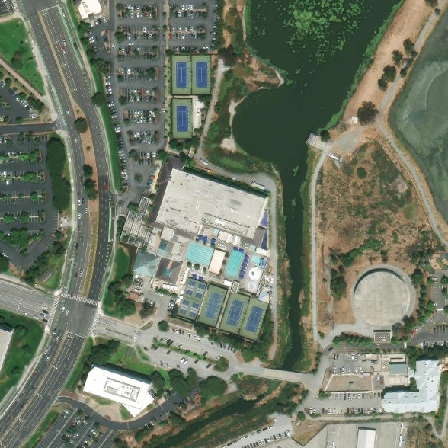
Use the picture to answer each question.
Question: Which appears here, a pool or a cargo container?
pool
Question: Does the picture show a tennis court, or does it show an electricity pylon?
tennis court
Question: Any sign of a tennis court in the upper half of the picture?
Yes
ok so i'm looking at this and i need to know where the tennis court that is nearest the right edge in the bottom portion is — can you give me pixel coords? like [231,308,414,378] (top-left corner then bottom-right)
[239,298,269,338]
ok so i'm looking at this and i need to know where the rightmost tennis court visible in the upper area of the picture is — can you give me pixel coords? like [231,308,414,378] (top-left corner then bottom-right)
[192,55,212,94]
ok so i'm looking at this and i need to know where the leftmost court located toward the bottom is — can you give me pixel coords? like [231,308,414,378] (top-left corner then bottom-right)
[178,278,210,321]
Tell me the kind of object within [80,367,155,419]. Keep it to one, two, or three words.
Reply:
building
